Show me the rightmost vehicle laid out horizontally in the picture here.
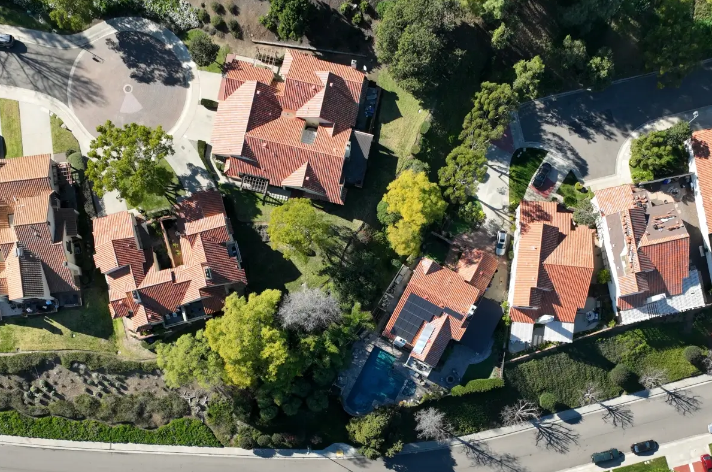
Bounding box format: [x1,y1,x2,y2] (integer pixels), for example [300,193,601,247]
[630,439,657,454]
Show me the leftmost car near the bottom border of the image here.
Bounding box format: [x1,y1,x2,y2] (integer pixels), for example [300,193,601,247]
[591,448,620,464]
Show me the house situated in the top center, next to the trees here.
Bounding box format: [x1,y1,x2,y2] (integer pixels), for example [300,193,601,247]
[211,48,381,206]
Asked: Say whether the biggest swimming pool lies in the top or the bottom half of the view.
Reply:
bottom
